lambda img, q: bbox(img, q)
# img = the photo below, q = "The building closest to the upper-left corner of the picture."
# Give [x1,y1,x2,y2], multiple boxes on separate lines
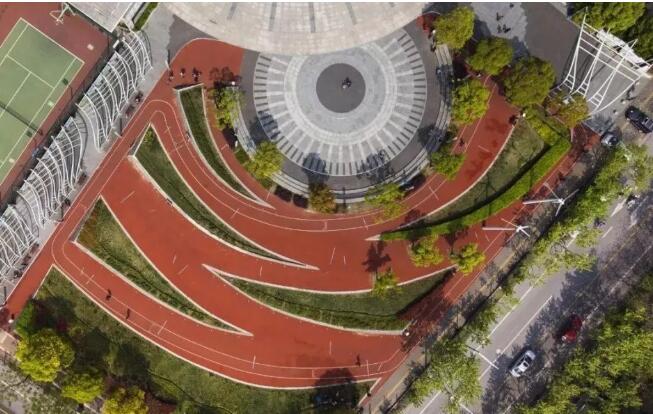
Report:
[59,0,142,38]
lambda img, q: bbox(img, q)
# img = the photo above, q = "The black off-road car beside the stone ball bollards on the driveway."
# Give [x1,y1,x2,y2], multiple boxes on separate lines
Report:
[623,105,653,133]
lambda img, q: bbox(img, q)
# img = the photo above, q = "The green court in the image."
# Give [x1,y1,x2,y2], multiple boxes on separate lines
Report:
[0,0,117,209]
